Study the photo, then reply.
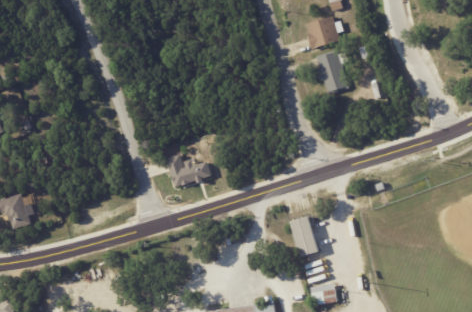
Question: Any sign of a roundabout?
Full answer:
No, the scene contains no roundabout.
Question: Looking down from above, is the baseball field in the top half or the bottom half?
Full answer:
The baseball field sits in the bottom half of the picture.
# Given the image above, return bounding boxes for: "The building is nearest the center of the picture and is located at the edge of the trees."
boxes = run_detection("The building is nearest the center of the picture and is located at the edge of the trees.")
[170,155,213,189]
